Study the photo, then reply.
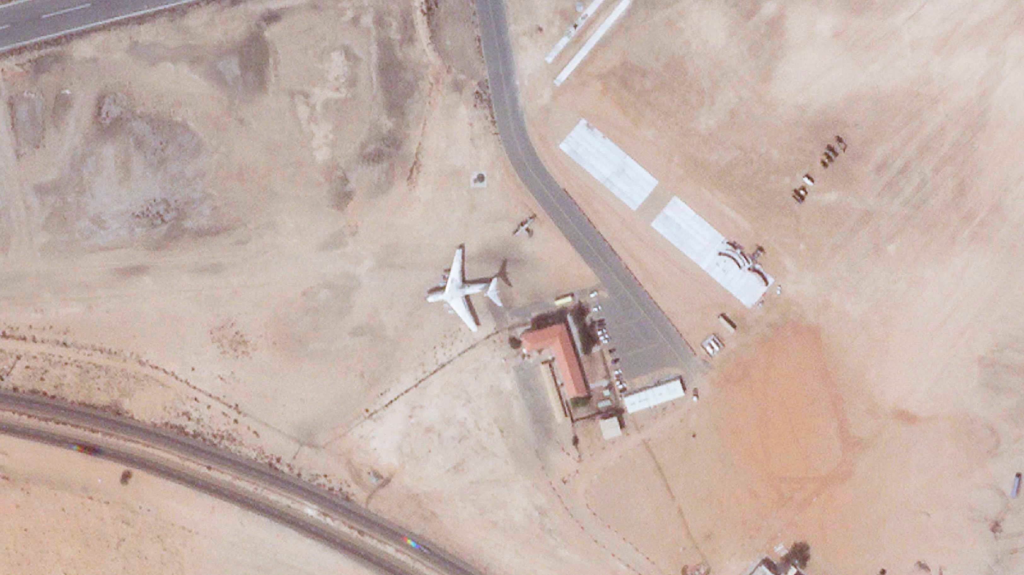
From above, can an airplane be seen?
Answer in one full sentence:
Yes, there's an airplane here.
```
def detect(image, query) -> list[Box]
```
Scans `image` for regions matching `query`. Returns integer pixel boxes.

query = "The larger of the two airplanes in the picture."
[427,253,501,330]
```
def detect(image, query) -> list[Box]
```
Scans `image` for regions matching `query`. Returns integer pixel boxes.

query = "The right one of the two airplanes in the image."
[514,218,534,235]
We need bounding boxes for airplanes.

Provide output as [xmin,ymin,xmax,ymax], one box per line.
[514,218,534,235]
[427,253,501,330]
